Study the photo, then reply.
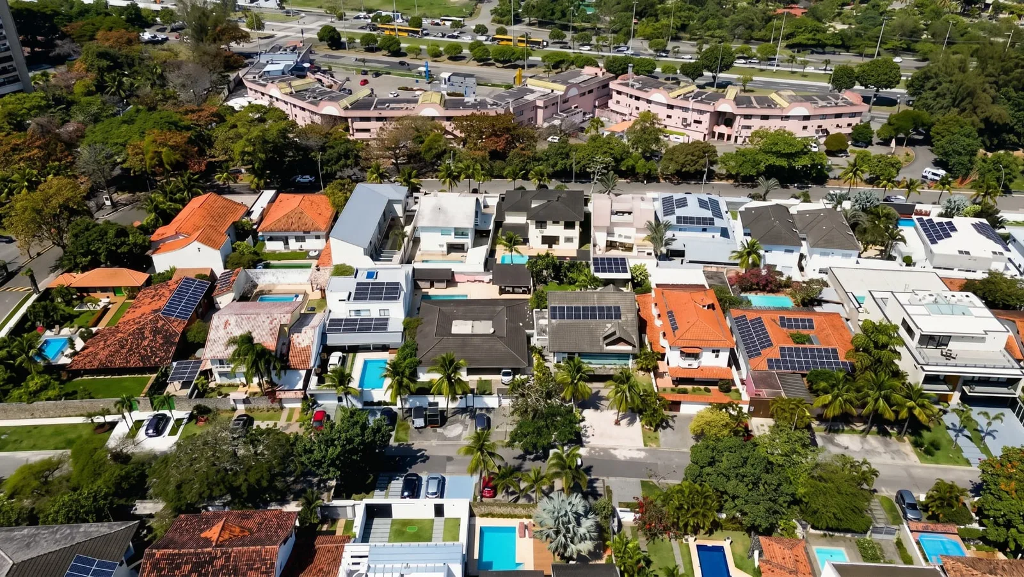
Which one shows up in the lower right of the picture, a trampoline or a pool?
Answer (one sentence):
You can see a pool in the lower right of the picture.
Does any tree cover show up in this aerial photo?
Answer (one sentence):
Yes, some tree cover is visible.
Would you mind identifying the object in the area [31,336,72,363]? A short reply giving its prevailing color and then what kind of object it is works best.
blue swimming pool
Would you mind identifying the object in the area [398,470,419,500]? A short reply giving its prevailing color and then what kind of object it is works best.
black car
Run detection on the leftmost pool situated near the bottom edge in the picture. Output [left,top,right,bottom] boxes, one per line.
[475,525,518,573]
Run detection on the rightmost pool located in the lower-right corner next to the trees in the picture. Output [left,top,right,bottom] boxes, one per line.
[916,533,970,568]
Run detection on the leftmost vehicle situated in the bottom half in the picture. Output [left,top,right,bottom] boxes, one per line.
[138,406,176,437]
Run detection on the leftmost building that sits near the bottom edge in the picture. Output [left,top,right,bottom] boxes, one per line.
[0,520,141,577]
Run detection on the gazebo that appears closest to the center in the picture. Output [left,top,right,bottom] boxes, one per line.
[493,264,531,299]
